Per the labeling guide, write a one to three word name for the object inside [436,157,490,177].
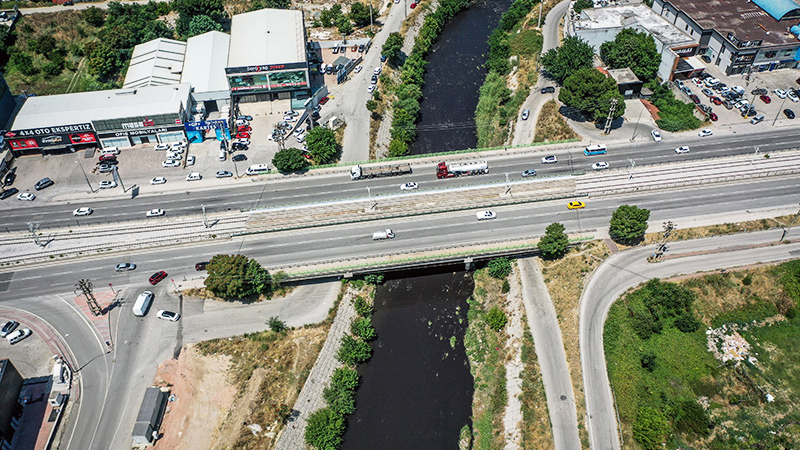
vehicle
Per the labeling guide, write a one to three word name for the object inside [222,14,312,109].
building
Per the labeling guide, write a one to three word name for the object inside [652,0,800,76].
building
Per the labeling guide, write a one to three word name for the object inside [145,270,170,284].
car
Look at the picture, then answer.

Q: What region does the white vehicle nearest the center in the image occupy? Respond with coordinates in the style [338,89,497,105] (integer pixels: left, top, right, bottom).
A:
[371,223,395,240]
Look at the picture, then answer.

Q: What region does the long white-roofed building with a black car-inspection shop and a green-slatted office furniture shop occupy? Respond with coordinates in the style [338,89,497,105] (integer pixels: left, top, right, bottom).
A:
[0,80,192,159]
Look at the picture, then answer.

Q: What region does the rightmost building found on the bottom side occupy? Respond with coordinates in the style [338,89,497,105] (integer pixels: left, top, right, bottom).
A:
[131,386,168,444]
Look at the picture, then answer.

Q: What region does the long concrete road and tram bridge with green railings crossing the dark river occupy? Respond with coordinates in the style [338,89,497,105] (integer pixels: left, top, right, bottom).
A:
[252,139,601,288]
